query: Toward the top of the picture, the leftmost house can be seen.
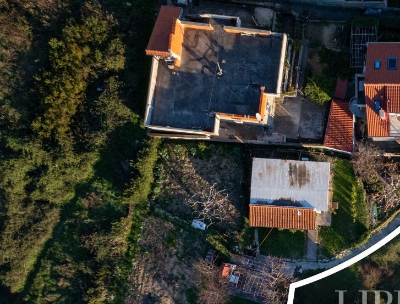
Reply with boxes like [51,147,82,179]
[144,5,296,142]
